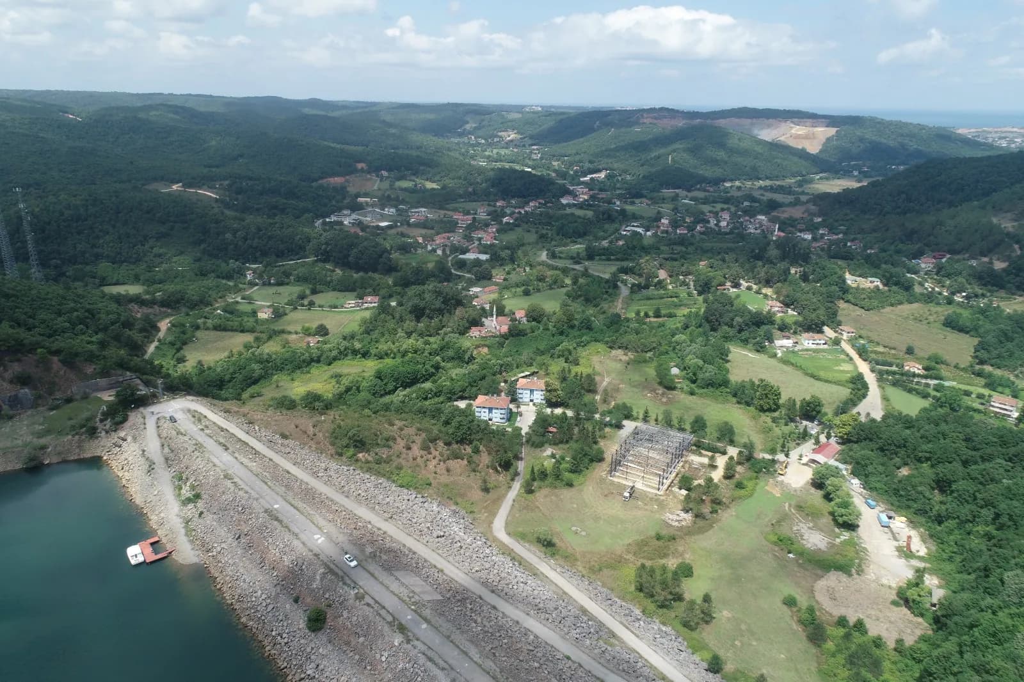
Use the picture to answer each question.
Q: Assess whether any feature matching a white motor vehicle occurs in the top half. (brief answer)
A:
No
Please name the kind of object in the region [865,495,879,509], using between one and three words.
vehicle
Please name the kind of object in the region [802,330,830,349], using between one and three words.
house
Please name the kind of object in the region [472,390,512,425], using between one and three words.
building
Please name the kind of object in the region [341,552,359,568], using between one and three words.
car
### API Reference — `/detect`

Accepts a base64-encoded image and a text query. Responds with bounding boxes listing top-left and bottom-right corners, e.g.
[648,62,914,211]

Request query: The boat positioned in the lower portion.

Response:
[128,543,144,566]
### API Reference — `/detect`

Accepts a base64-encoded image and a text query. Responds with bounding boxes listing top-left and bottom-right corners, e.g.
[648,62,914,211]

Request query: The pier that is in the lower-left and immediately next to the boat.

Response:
[138,536,169,564]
